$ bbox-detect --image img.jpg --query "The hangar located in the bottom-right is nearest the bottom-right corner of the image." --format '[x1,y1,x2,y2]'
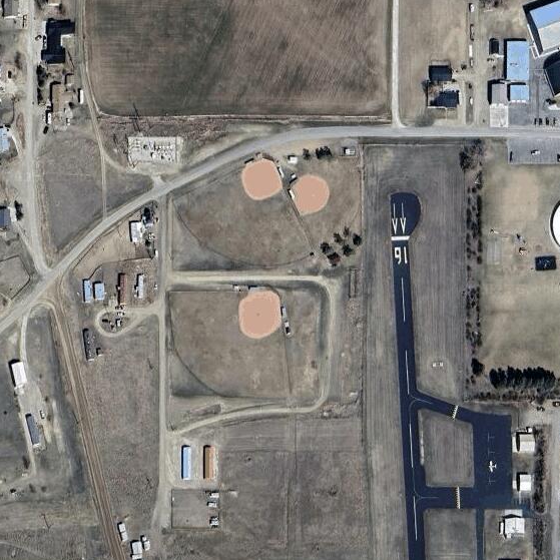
[504,517,524,535]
